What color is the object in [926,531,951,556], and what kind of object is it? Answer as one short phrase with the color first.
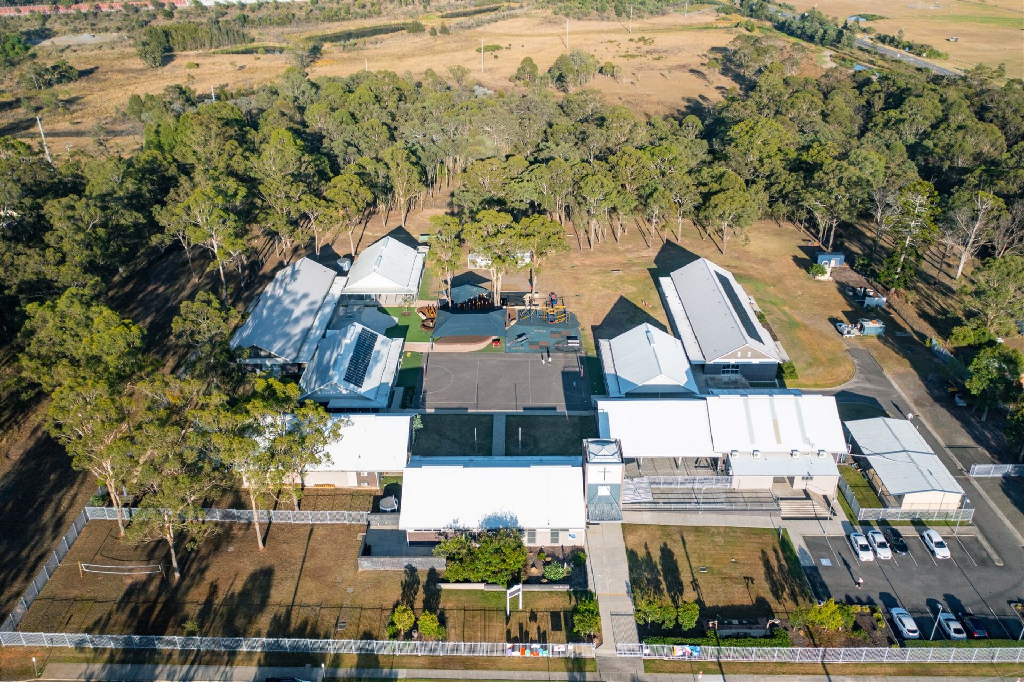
white car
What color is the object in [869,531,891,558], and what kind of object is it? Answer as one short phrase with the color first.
white car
